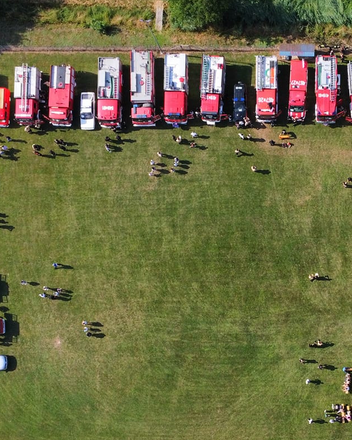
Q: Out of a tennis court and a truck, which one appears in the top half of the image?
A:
truck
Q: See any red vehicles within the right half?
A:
Yes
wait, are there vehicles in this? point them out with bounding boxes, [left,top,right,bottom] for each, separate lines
[97,57,125,128]
[79,92,96,130]
[229,85,248,124]
[343,60,352,126]
[12,62,47,125]
[254,52,284,121]
[43,65,77,126]
[129,49,163,126]
[198,51,229,127]
[313,55,343,124]
[287,59,307,121]
[0,355,9,370]
[163,53,195,125]
[0,88,12,127]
